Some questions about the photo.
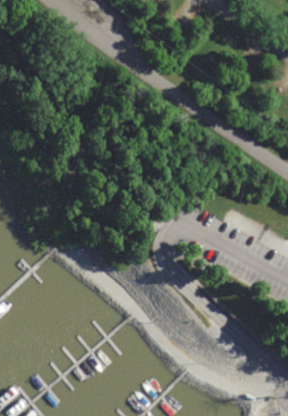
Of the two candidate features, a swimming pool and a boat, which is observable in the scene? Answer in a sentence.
Visible in the photo is a boat.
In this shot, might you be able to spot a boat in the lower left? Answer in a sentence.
Yes, a boat shows up in the lower left.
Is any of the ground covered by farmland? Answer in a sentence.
No, there's no farmland in this view.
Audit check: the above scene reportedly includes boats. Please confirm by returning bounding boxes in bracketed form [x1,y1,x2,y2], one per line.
[135,391,152,408]
[158,399,175,416]
[32,374,46,392]
[129,397,144,413]
[150,377,162,392]
[0,384,21,410]
[24,406,41,416]
[2,394,32,416]
[79,358,96,378]
[142,382,158,399]
[96,350,112,366]
[42,390,58,408]
[86,353,102,372]
[0,300,11,316]
[143,407,153,416]
[74,365,88,380]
